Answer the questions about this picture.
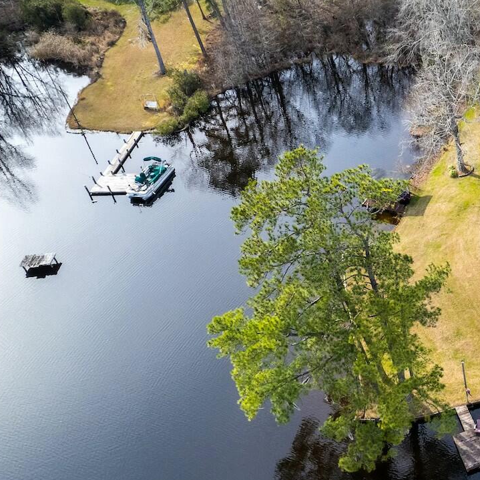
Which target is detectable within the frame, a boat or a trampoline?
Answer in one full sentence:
I can see a boat in this picture.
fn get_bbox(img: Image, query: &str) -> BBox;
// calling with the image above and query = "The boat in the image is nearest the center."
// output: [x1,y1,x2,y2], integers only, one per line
[122,153,184,203]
